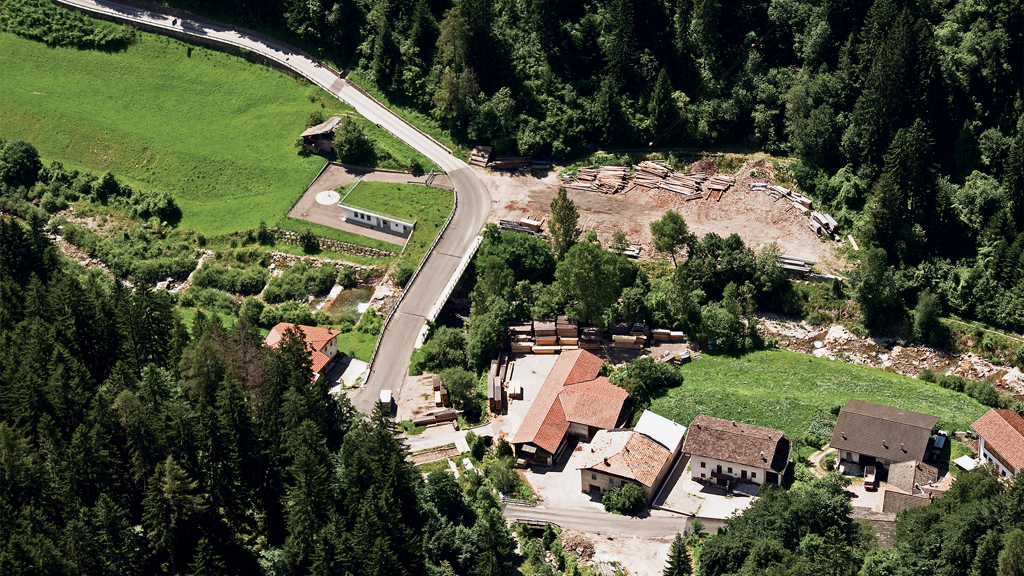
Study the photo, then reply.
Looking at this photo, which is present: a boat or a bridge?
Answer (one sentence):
It is a bridge that can be seen here.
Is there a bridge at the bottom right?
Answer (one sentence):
No, no bridge can be made out at the bottom right.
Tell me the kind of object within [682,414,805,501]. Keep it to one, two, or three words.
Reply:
house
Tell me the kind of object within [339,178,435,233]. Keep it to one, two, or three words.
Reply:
building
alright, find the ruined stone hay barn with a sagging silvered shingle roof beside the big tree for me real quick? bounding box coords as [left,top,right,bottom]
[300,117,343,160]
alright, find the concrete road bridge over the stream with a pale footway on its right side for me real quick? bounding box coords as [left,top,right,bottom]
[402,235,483,349]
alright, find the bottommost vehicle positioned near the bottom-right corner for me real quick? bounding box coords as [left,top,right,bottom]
[862,466,878,490]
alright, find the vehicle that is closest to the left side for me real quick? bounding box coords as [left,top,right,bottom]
[380,386,393,415]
